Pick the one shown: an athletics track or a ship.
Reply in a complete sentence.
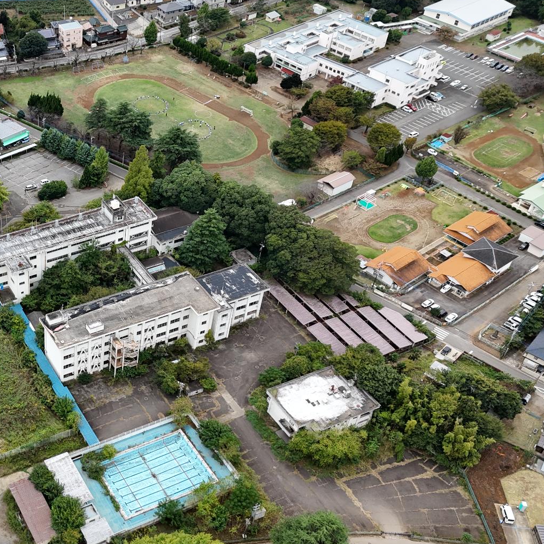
The image shows an athletics track.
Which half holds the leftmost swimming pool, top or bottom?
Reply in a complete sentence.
It is in the bottom half that the leftmost swimming pool appears.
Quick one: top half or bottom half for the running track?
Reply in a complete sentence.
It is in the top half that the running track appears.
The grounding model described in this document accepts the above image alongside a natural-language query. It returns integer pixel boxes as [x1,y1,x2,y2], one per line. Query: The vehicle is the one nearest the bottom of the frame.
[501,502,516,523]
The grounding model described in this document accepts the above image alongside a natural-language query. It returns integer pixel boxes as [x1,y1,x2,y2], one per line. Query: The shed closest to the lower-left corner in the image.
[9,477,60,544]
